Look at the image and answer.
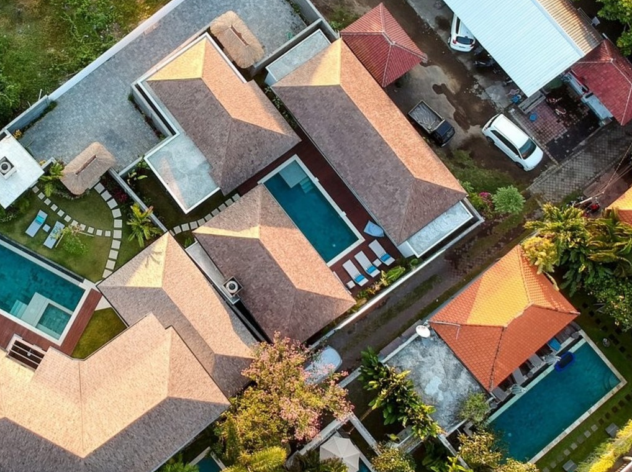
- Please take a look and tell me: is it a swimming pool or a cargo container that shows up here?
swimming pool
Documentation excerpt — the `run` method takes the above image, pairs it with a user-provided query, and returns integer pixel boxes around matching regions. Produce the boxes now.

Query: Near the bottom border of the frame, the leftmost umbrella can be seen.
[317,432,361,472]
